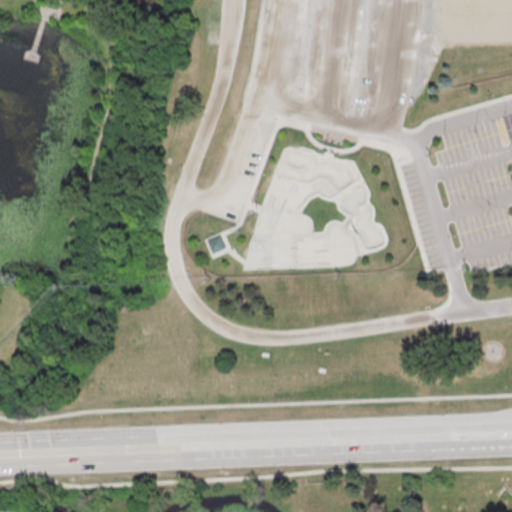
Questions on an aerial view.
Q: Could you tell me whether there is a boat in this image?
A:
No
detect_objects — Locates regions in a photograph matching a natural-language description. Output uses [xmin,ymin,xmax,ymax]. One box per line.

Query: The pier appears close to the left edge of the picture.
[24,7,62,64]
